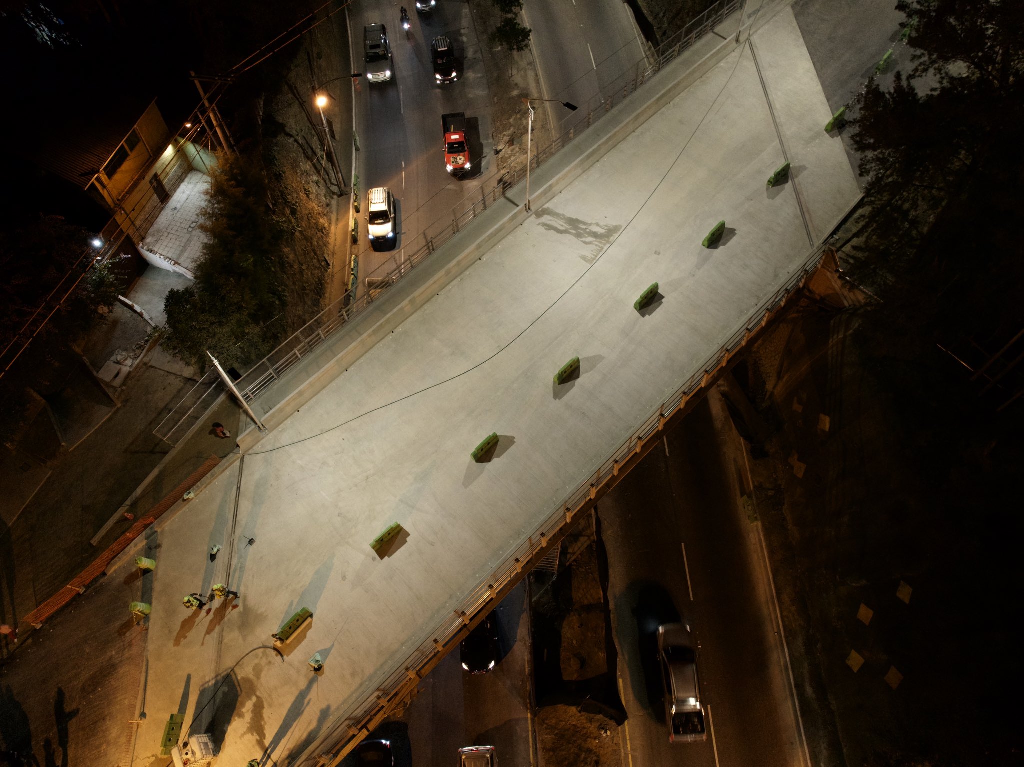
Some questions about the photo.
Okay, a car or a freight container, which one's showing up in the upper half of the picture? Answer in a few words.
car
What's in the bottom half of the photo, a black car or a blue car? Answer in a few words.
black car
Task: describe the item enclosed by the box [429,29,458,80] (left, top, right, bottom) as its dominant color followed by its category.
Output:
black car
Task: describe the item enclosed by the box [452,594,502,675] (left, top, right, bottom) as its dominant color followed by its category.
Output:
black car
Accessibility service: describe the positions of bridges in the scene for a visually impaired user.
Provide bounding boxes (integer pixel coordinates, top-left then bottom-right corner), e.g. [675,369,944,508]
[205,0,861,767]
